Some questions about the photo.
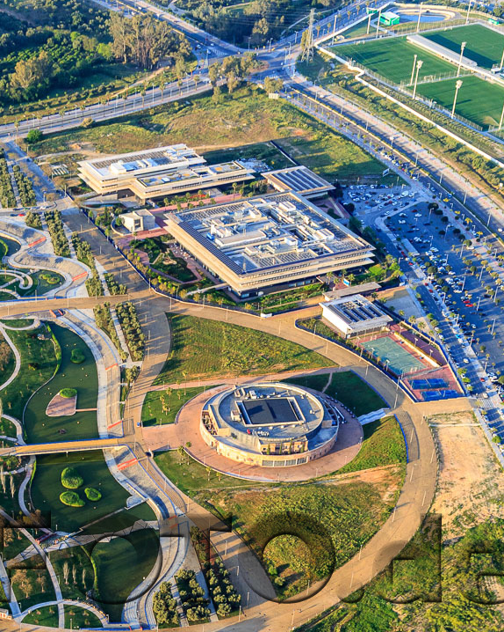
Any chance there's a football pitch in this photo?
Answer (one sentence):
Yes, there's a football pitch down there.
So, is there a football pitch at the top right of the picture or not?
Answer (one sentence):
Yes, there is a football pitch at the top right of the picture.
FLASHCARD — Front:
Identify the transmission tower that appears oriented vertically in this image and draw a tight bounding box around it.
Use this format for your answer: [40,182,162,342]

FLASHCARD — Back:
[302,0,318,61]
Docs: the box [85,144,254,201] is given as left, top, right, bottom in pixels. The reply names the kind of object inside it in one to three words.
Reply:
building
